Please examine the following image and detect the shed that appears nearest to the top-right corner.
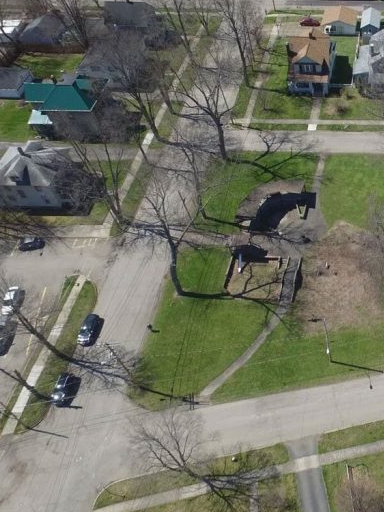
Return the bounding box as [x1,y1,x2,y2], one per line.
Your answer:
[361,8,381,39]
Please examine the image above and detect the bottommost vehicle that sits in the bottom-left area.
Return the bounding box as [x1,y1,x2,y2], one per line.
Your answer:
[47,371,76,407]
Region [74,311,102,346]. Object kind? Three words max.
car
